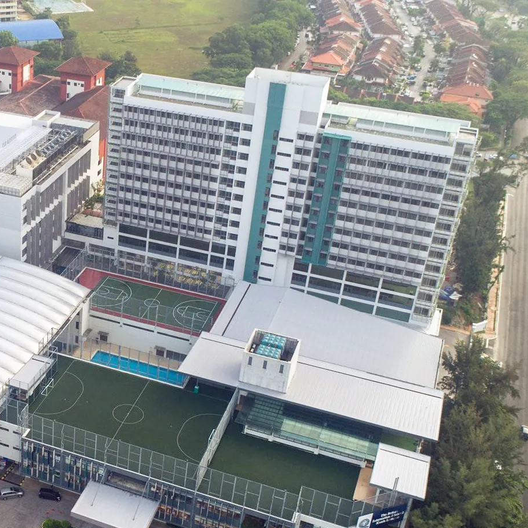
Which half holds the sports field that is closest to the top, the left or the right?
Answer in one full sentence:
The sports field that is closest to the top sits on the left side.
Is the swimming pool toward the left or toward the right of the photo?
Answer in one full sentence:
The swimming pool appears in the left half of the scene.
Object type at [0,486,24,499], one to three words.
vehicle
